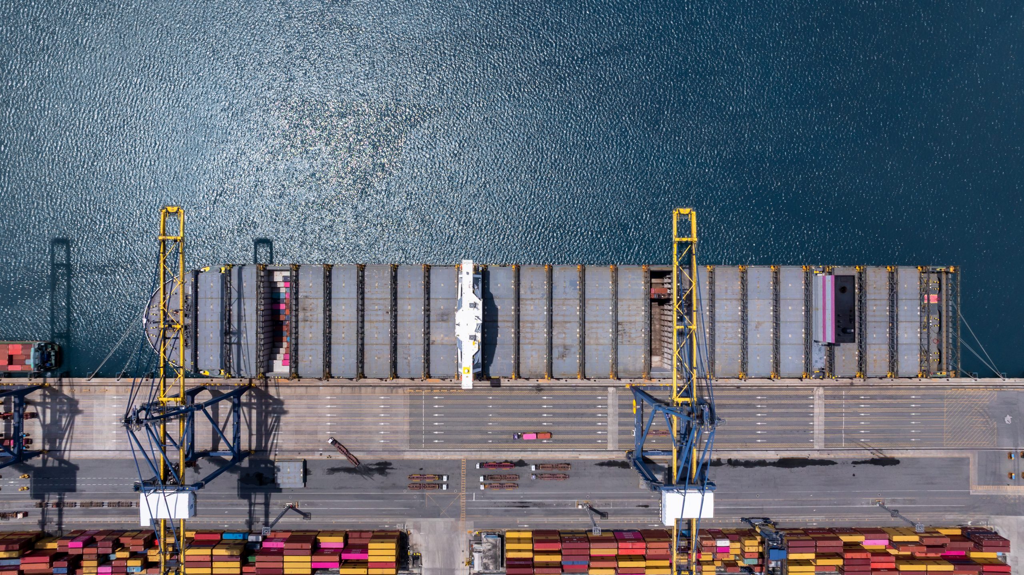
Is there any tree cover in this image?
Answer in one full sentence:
No, no tree cover is visible.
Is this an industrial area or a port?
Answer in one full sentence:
This image shows a port.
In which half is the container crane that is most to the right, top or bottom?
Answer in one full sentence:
The container crane that is most to the right sits in the bottom half of the picture.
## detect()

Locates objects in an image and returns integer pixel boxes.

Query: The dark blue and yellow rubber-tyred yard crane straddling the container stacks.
[741,519,789,575]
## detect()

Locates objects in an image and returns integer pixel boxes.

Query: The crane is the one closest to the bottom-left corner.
[0,383,54,473]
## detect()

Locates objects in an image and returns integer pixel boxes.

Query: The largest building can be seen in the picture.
[482,533,501,571]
